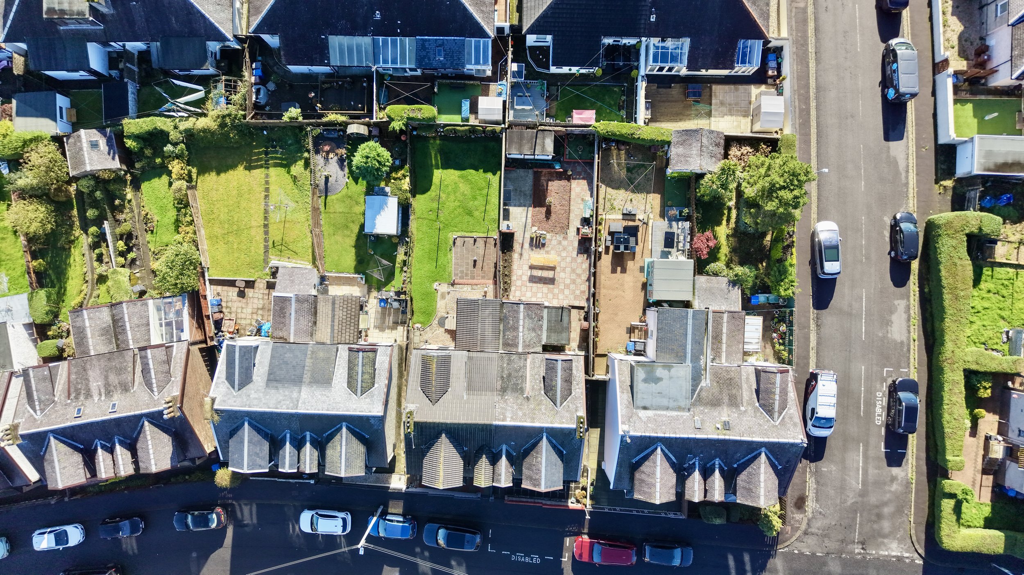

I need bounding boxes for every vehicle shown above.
[882,41,917,101]
[575,537,638,568]
[369,514,418,543]
[300,509,352,538]
[889,212,921,261]
[97,514,145,543]
[173,507,227,535]
[643,541,694,572]
[806,372,839,432]
[812,222,844,276]
[29,522,86,552]
[886,378,921,433]
[423,522,483,553]
[0,535,11,560]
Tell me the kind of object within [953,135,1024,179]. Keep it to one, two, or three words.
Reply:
building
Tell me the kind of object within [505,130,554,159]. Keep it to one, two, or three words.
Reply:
shed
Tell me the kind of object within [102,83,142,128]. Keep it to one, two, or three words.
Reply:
shed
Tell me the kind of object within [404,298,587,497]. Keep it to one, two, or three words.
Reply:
house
